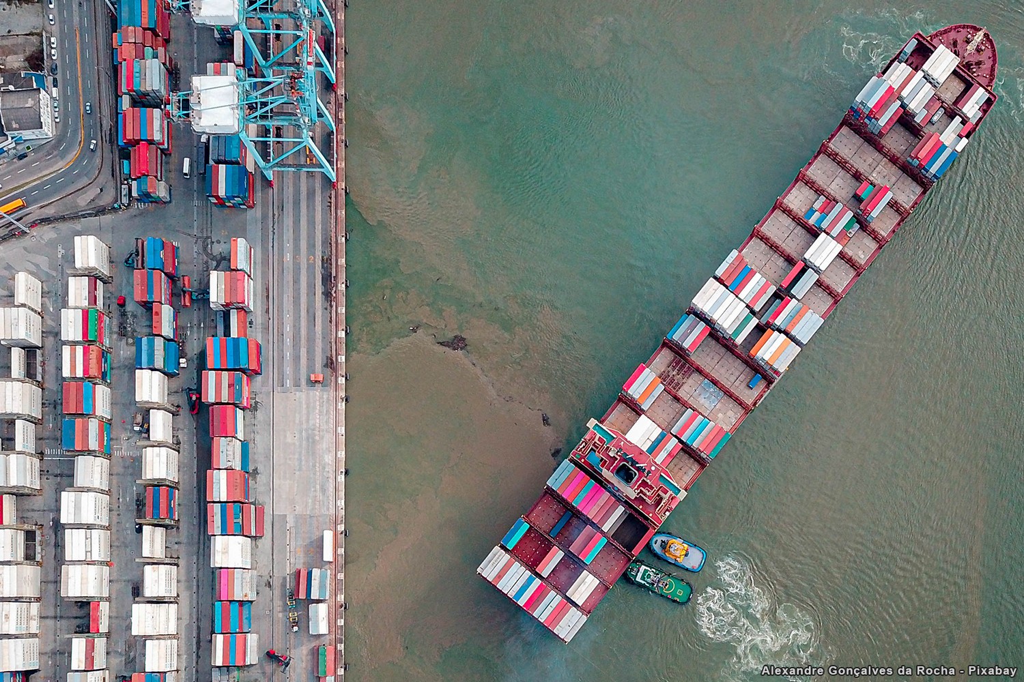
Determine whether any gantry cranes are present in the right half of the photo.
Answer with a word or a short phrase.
No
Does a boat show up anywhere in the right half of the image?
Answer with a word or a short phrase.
Yes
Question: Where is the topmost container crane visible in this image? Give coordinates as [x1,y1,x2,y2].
[162,0,336,92]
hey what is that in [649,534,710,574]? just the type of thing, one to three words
boat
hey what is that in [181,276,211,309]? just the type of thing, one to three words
work vehicle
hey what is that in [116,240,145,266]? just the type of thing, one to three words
work vehicle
